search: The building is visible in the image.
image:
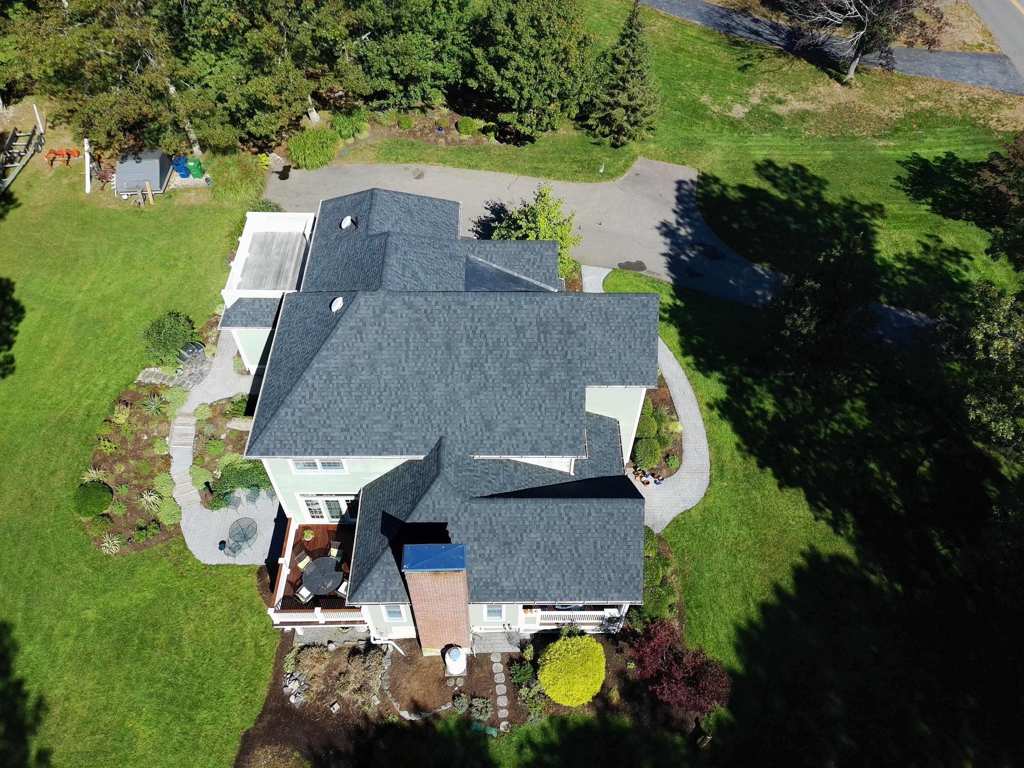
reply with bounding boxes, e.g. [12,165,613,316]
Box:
[215,187,659,660]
